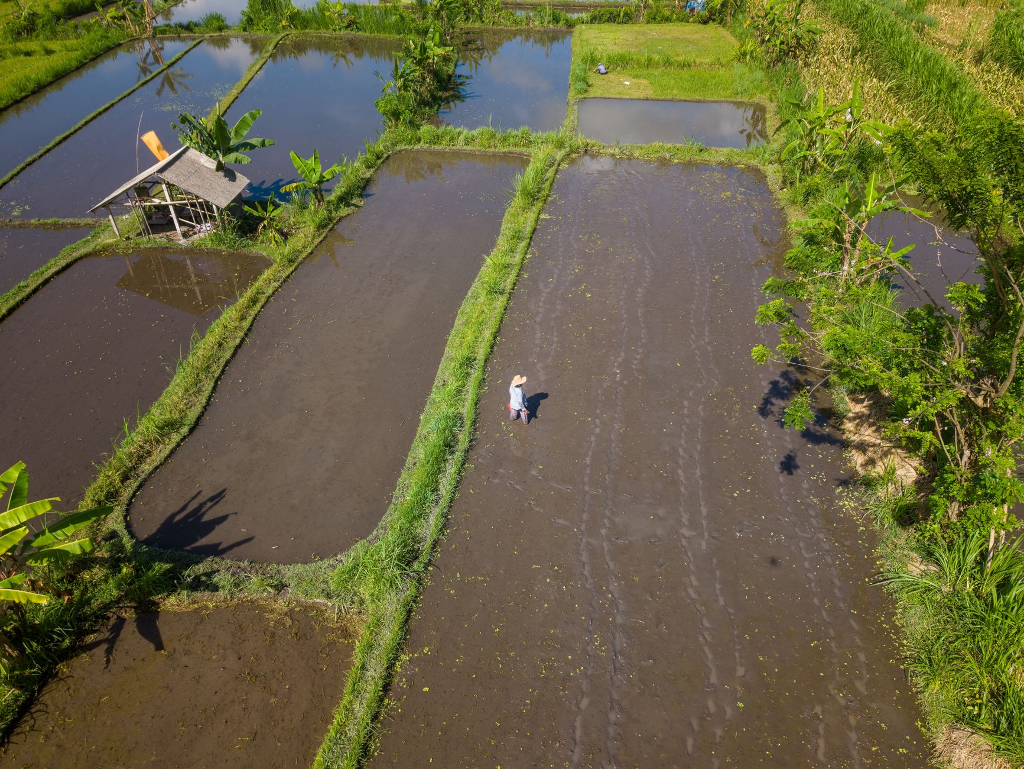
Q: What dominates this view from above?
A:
water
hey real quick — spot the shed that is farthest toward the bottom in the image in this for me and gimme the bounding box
[87,142,260,247]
